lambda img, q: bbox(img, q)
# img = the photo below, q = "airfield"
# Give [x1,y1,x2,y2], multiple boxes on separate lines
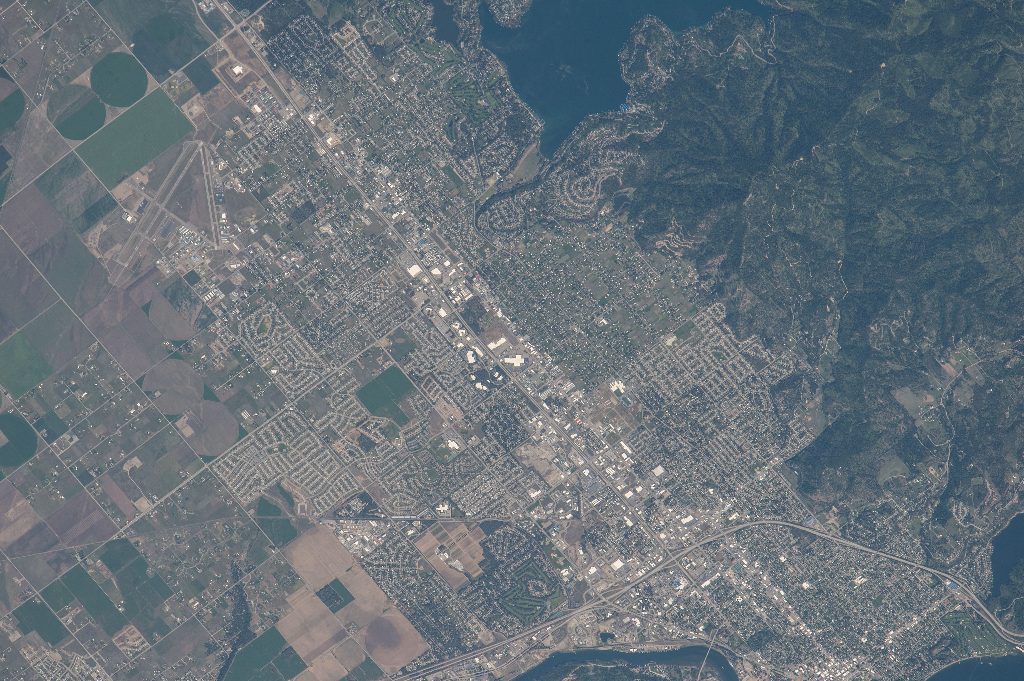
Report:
[95,130,243,285]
